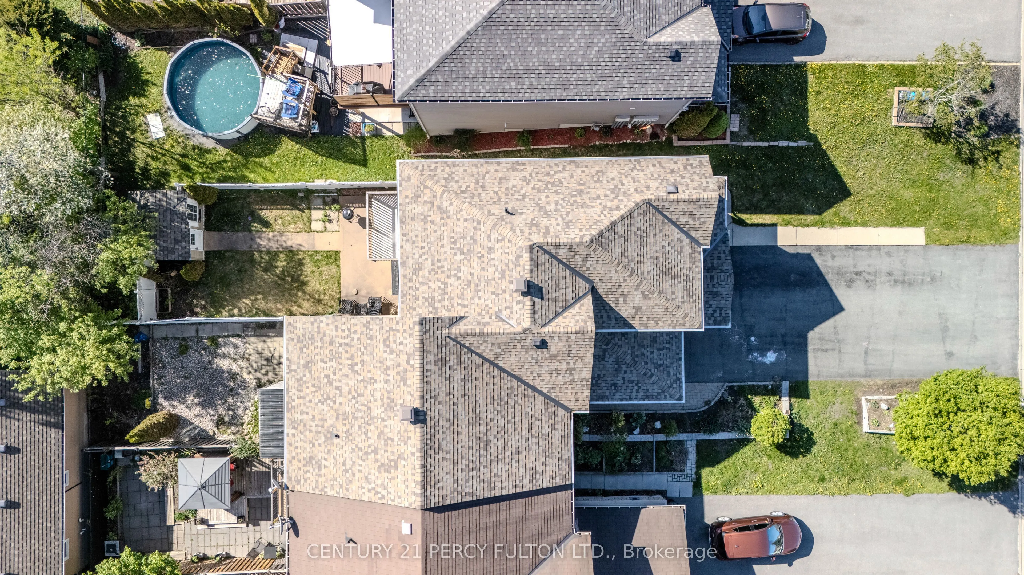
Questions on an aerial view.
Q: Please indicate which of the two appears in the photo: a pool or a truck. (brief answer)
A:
pool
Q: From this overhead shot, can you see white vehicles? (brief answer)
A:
No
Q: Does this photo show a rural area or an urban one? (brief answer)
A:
urban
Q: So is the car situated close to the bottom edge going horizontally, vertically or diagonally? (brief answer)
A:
horizontally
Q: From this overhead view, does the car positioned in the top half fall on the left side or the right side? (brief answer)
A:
right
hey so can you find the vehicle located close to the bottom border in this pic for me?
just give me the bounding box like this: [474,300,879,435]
[707,511,800,560]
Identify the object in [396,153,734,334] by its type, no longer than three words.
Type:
house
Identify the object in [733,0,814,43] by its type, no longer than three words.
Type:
car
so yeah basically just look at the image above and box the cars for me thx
[733,0,814,43]
[707,511,800,560]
